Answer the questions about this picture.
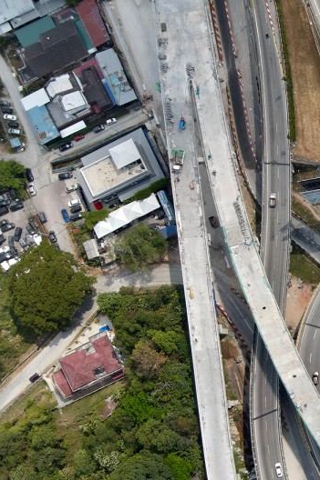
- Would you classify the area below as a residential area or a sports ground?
residential area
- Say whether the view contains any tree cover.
Yes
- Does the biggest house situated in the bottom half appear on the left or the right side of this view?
left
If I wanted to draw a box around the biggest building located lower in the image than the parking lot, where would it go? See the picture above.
[52,334,128,398]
